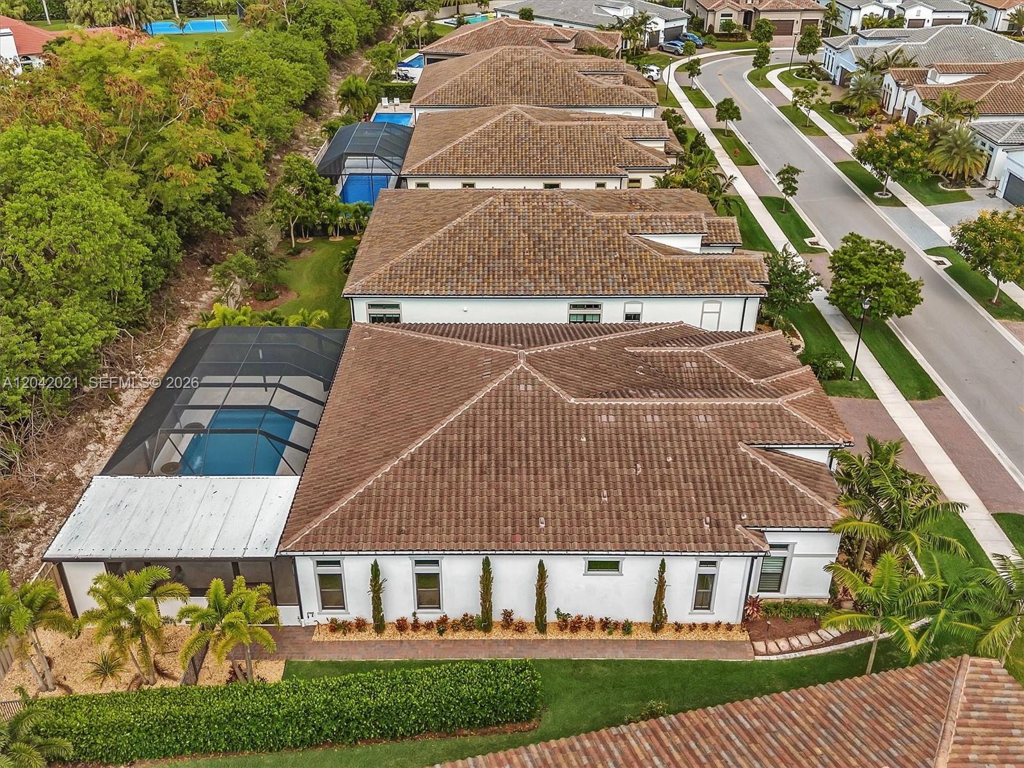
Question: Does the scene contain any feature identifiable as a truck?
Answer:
No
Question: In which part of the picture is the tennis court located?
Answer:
top left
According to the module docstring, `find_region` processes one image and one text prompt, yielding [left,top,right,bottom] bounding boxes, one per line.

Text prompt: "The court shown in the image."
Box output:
[138,0,229,34]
